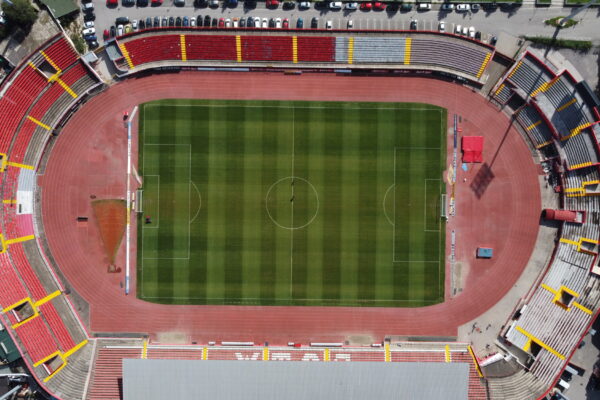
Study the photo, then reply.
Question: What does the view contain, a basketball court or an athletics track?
athletics track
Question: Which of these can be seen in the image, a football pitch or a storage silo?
football pitch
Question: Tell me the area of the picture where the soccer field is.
center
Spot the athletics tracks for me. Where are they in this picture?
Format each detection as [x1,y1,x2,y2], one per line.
[40,72,544,346]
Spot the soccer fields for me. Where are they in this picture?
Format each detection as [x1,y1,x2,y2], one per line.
[137,101,447,306]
